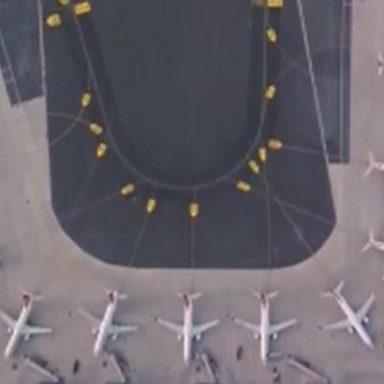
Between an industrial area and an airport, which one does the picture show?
airport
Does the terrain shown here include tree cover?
No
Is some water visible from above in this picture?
No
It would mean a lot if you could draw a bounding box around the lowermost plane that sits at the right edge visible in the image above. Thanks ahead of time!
[323,282,375,348]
